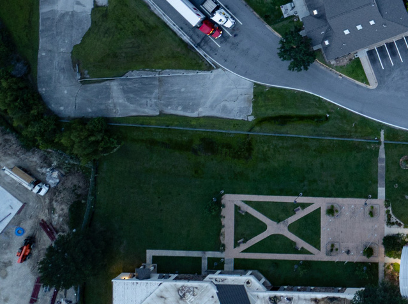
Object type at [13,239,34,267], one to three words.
work vehicle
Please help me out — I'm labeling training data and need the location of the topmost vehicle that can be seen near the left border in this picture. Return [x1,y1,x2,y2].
[0,165,49,194]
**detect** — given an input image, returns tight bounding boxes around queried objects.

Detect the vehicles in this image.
[13,239,34,267]
[197,0,237,29]
[166,0,225,39]
[0,165,49,194]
